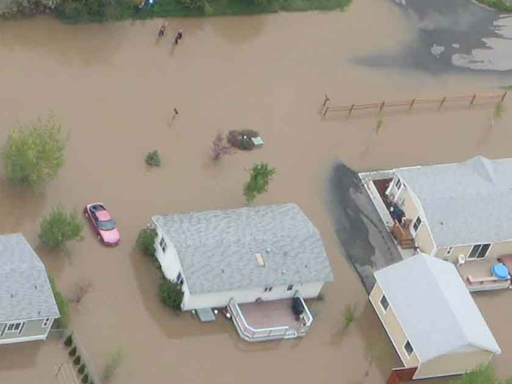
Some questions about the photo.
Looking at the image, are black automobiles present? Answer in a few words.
No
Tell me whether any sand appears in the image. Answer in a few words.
No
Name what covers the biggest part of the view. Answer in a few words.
water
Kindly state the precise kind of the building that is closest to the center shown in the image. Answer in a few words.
residential house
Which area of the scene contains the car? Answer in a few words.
left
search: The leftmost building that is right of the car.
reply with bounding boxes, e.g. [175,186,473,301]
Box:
[152,204,333,310]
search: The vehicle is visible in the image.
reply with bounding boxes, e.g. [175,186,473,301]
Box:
[77,203,125,253]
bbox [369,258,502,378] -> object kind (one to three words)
building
